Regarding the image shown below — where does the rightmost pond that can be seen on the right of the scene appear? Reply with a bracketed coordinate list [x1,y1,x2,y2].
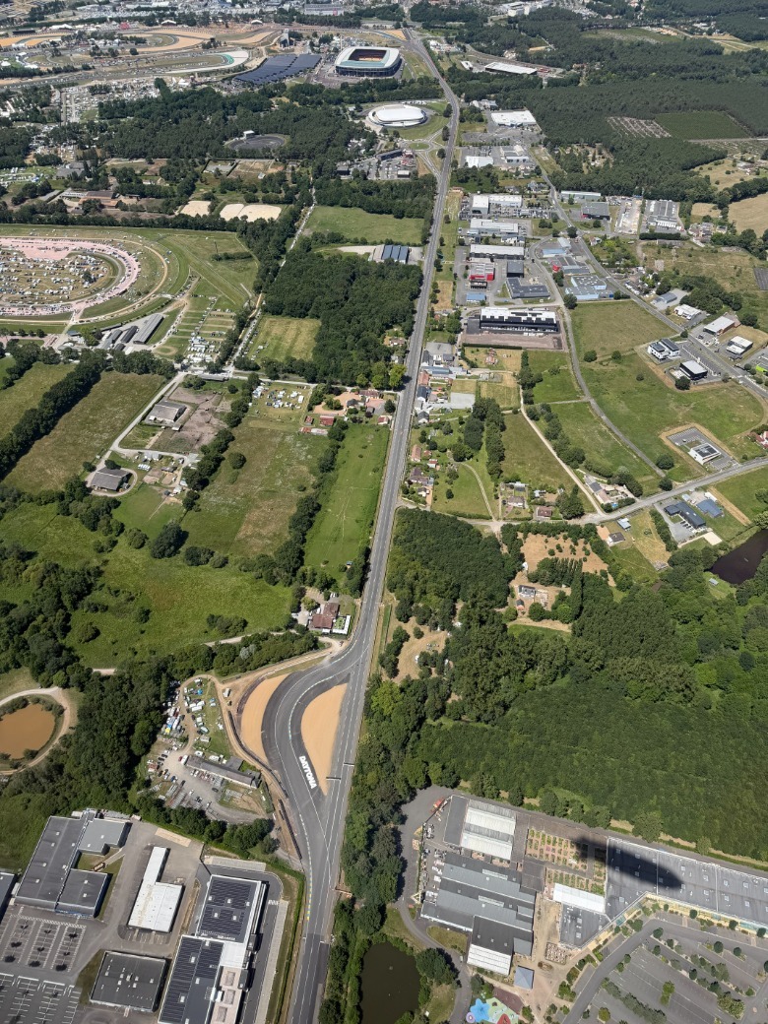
[708,527,768,585]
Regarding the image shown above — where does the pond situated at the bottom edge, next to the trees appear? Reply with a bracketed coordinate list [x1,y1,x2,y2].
[359,943,418,1024]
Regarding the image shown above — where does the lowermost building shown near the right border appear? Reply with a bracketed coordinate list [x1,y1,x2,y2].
[603,835,768,934]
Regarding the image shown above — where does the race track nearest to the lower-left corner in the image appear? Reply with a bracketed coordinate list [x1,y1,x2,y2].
[276,643,356,868]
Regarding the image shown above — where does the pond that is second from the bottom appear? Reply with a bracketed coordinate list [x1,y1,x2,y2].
[0,700,55,759]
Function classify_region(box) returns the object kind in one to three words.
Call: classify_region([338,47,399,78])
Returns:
stadium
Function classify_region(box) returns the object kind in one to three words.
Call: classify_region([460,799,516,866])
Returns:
greenhouse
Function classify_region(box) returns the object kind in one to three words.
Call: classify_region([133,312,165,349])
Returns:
barn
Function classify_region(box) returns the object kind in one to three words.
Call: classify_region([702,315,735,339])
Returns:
building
